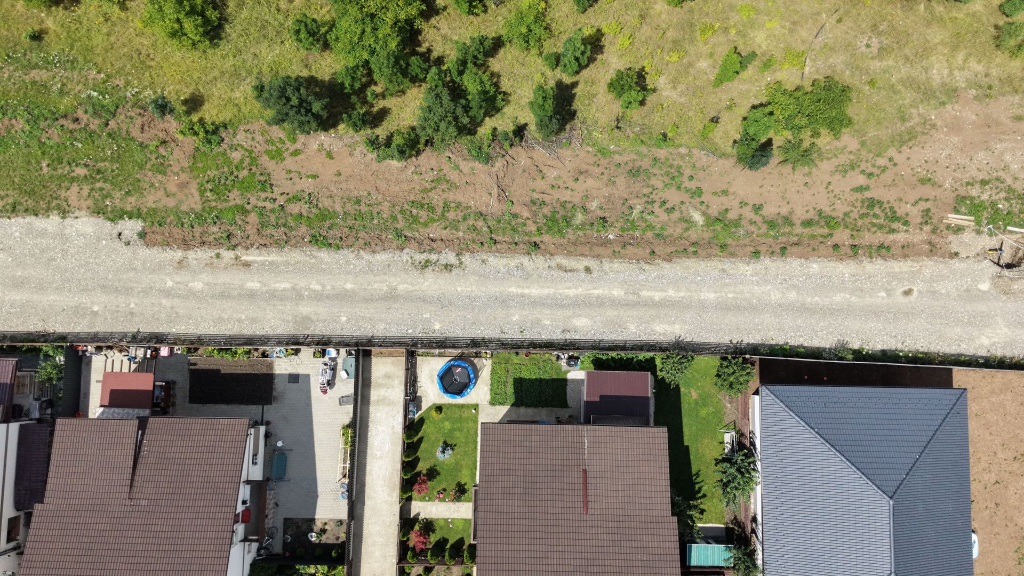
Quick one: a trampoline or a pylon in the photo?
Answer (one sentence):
It is a trampoline that can be seen here.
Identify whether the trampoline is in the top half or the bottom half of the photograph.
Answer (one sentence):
It is in the bottom half that the trampoline appears.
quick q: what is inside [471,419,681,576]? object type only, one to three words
house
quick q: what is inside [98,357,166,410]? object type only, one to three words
shed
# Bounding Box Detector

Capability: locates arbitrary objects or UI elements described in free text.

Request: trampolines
[437,359,477,400]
